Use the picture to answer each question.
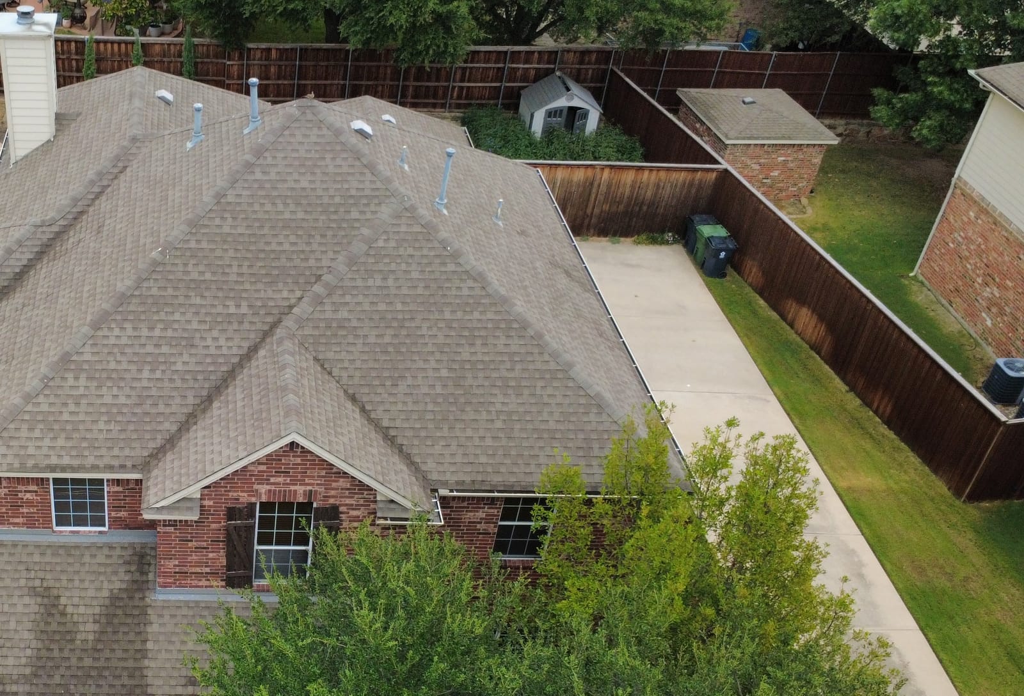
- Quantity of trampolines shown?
0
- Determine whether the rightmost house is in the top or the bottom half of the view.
top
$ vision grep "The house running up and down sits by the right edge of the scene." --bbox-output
[903,60,1024,362]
